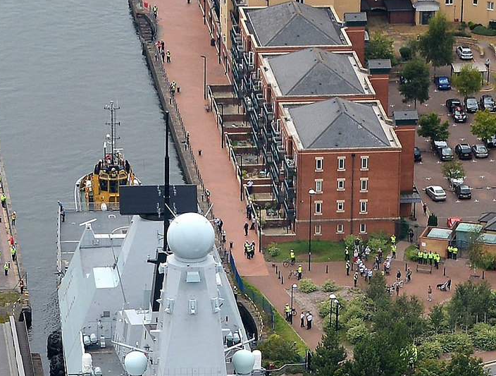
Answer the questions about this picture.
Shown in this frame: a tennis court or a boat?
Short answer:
boat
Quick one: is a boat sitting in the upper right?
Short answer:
No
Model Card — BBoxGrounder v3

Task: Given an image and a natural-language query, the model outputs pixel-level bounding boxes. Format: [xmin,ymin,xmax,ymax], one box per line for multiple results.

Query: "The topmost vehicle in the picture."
[454,46,475,60]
